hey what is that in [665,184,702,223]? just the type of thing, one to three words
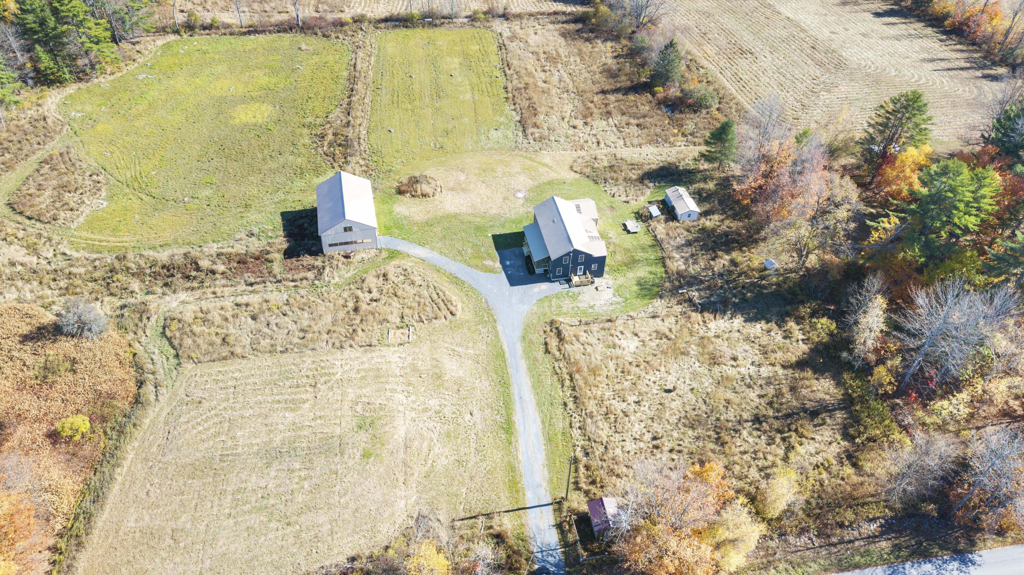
shed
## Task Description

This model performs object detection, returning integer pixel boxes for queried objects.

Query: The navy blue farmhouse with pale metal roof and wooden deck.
[521,194,608,280]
